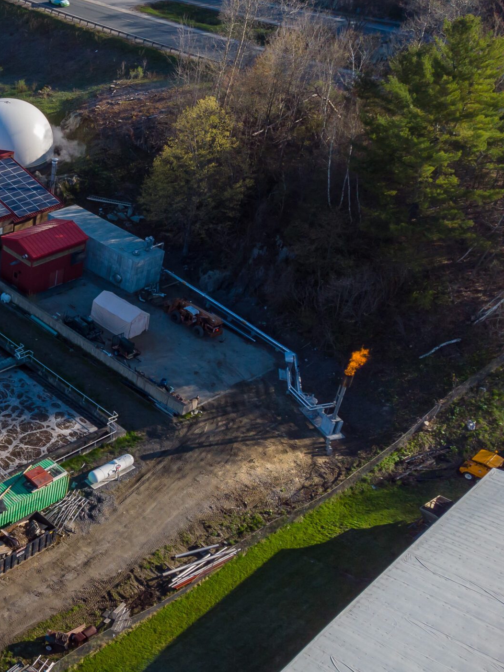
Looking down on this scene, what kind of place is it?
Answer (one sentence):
The picture captures an industrial area.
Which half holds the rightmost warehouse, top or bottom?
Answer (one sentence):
Seen from above, the rightmost warehouse lies in the bottom half of the view.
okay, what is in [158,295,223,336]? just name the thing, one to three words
work vehicle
